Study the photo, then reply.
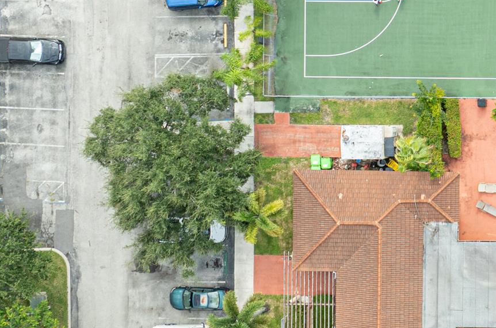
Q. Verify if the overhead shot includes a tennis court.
No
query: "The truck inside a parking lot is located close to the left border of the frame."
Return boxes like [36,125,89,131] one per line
[0,33,68,66]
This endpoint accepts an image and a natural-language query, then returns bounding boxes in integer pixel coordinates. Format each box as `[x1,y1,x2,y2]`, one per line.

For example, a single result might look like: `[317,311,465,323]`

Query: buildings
[291,169,496,328]
[341,125,386,160]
